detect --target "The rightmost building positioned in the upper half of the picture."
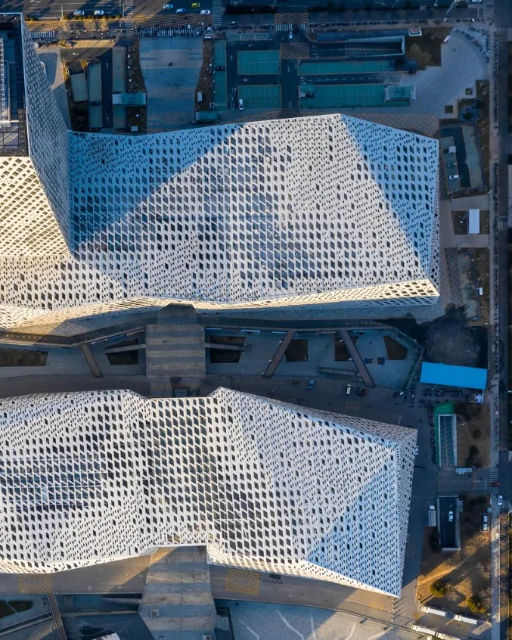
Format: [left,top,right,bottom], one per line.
[467,208,480,235]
